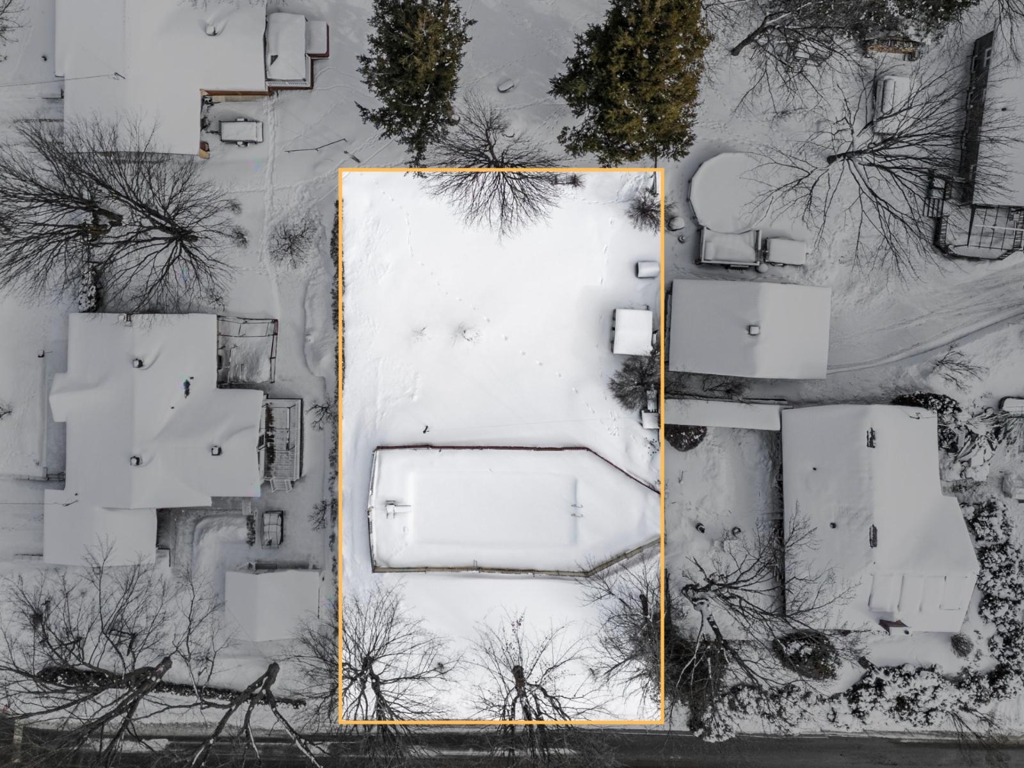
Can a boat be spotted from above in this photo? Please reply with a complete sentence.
No, the picture doesn't show any boat.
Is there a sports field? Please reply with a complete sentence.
No, I can see no sports field in this picture.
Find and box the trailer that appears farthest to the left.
[206,117,264,145]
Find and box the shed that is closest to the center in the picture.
[611,309,653,354]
